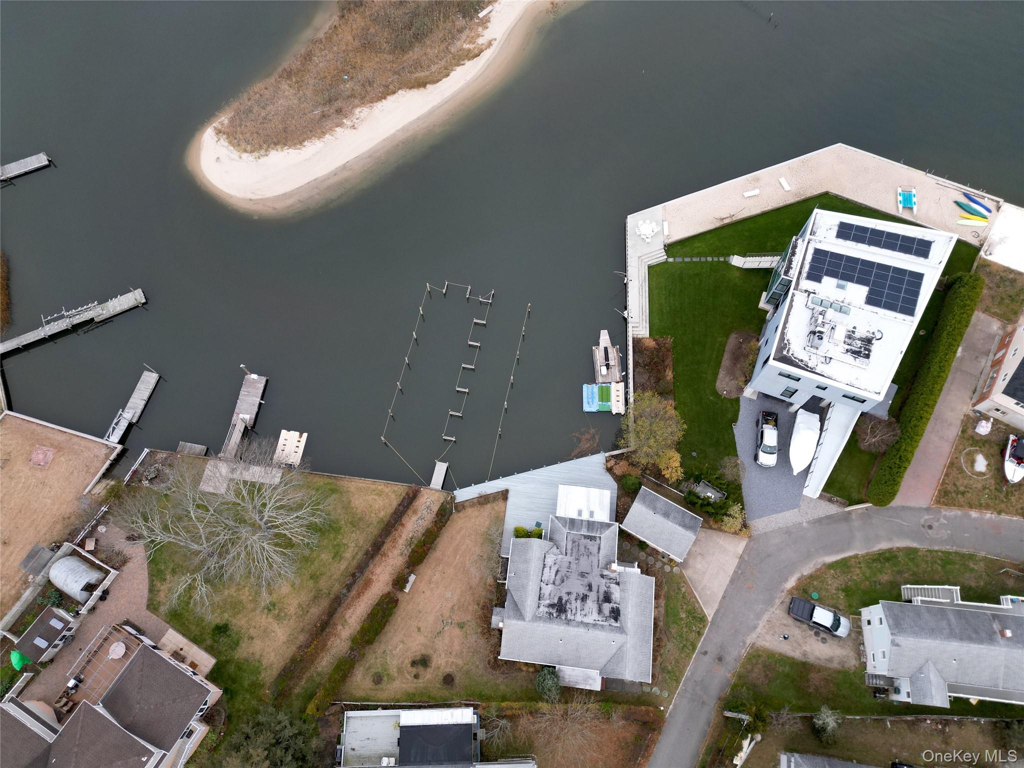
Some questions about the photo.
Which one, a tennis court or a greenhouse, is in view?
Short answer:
greenhouse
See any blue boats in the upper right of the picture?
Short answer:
Yes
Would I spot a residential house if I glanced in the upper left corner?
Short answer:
No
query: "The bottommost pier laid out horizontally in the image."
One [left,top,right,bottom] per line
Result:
[176,442,208,457]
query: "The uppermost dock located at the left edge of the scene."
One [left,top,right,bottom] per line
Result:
[0,152,50,183]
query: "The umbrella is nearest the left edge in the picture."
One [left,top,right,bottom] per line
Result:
[9,649,39,669]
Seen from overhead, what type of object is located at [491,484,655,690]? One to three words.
house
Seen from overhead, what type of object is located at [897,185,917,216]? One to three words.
boat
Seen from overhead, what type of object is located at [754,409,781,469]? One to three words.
truck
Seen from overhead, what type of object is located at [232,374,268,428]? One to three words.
pier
